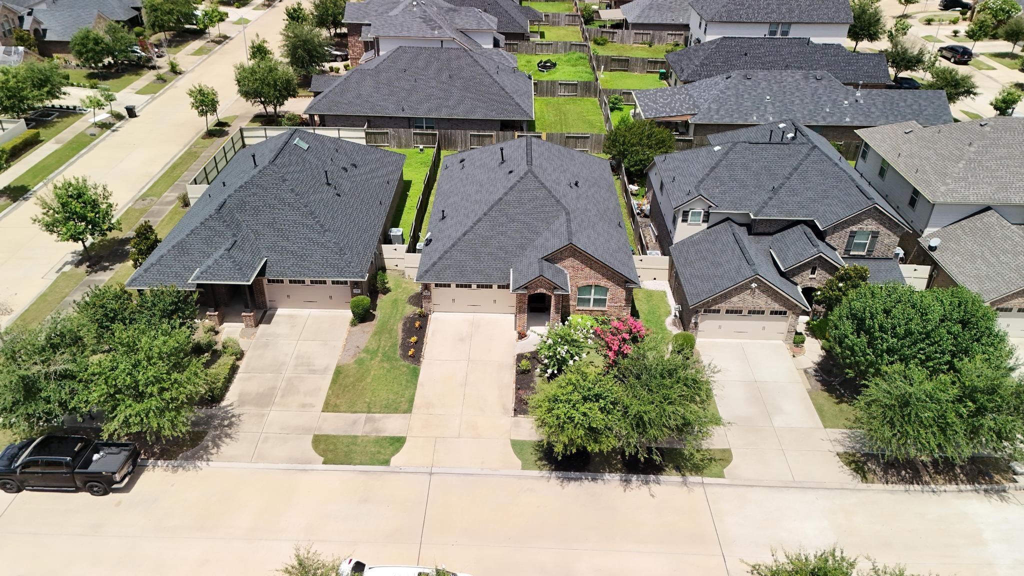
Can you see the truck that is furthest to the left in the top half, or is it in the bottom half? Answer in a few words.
bottom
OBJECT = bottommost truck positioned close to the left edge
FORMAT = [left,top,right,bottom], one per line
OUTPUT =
[0,440,140,501]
